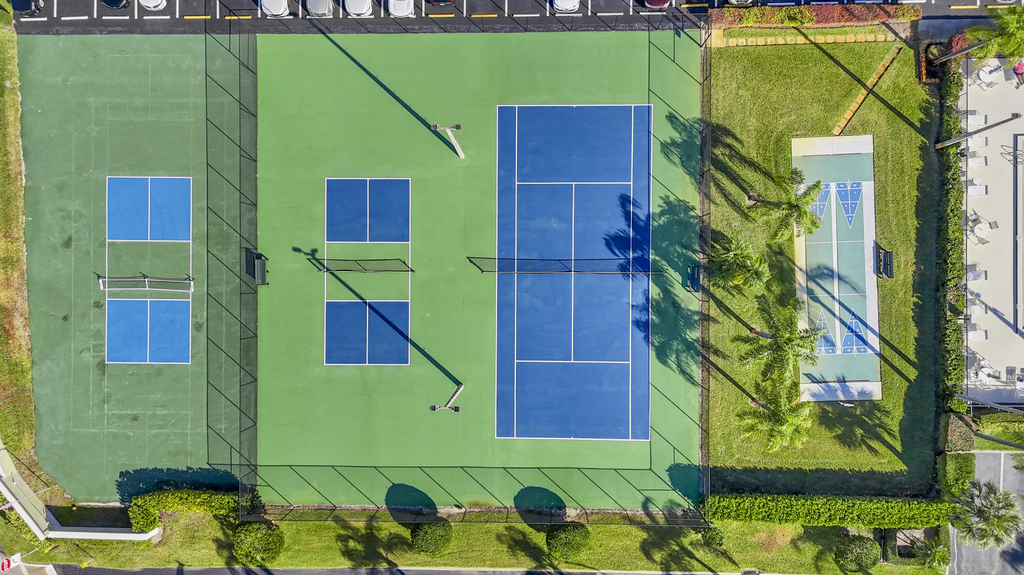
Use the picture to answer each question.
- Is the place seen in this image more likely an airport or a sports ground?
sports ground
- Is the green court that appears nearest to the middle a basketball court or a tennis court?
tennis court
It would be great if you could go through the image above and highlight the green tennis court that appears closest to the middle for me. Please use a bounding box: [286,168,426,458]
[257,29,701,509]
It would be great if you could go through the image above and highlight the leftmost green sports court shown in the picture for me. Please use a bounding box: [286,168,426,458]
[19,34,257,503]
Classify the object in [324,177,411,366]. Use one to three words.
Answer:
sports court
